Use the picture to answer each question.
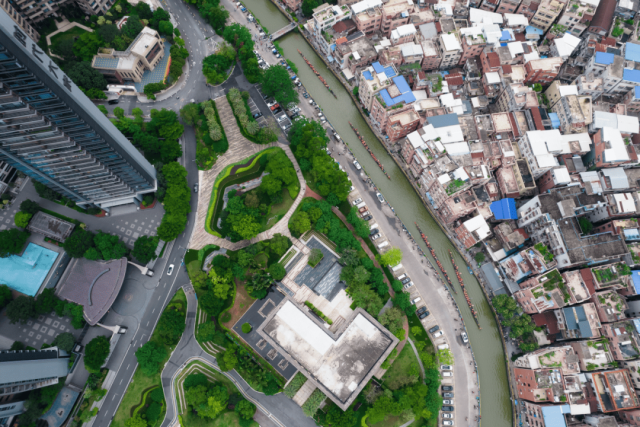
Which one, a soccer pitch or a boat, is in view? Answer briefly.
boat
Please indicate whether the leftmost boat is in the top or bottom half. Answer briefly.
top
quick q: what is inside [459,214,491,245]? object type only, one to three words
house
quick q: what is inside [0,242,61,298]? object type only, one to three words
swimming pool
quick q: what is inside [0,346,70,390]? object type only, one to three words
building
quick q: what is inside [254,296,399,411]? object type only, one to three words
building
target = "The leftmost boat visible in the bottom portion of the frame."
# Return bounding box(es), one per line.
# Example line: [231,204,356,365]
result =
[414,219,458,295]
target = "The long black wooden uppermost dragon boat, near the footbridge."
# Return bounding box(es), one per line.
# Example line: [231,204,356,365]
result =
[296,47,337,98]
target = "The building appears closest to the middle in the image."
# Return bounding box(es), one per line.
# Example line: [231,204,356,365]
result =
[314,264,342,298]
